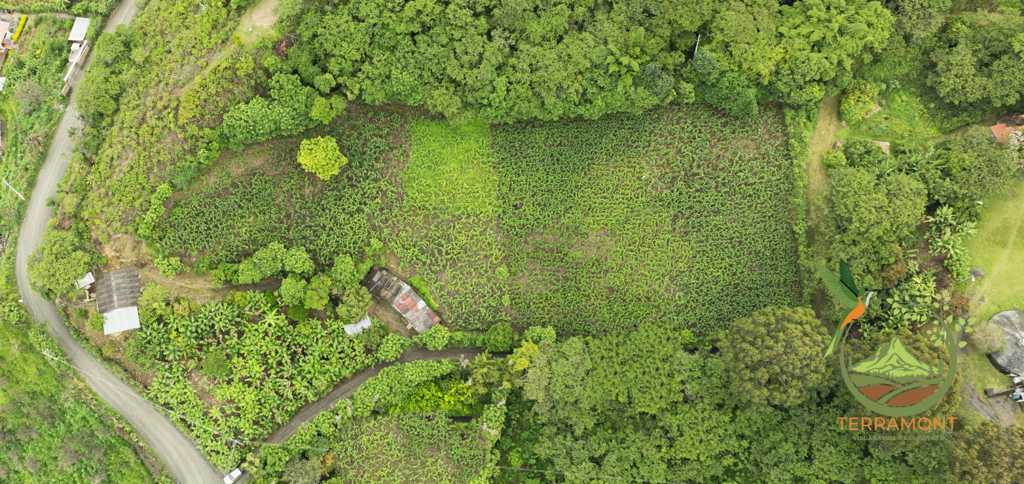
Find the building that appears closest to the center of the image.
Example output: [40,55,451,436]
[363,266,441,336]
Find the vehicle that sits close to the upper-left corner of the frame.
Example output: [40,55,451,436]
[68,42,82,65]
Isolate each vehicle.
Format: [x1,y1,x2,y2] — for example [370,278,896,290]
[68,42,82,65]
[223,462,249,484]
